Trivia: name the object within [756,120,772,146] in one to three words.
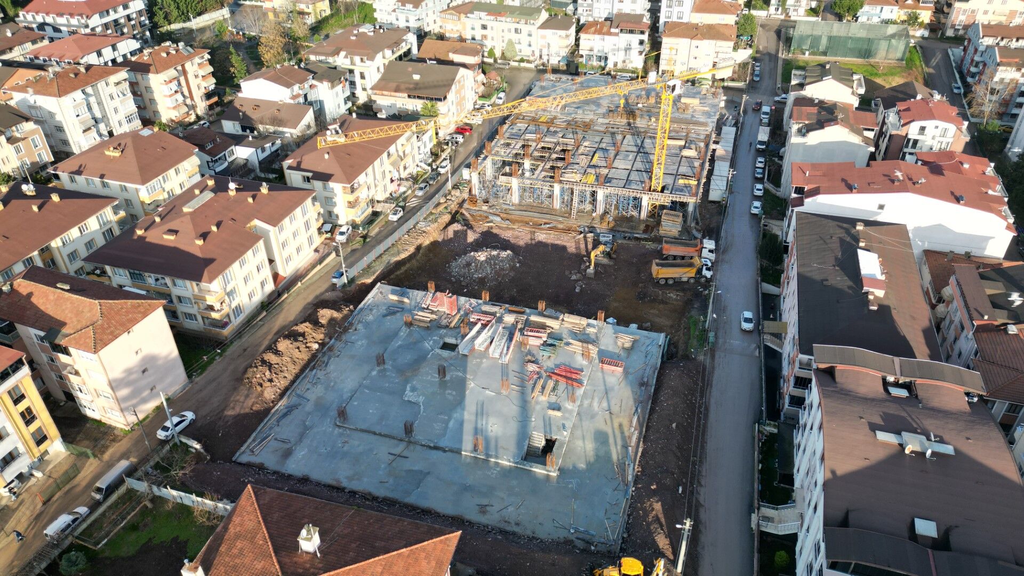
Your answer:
vehicle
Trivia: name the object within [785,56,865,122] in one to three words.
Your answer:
house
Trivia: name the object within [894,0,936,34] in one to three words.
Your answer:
house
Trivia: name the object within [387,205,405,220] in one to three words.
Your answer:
car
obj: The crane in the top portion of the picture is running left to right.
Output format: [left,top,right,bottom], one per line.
[314,48,749,217]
